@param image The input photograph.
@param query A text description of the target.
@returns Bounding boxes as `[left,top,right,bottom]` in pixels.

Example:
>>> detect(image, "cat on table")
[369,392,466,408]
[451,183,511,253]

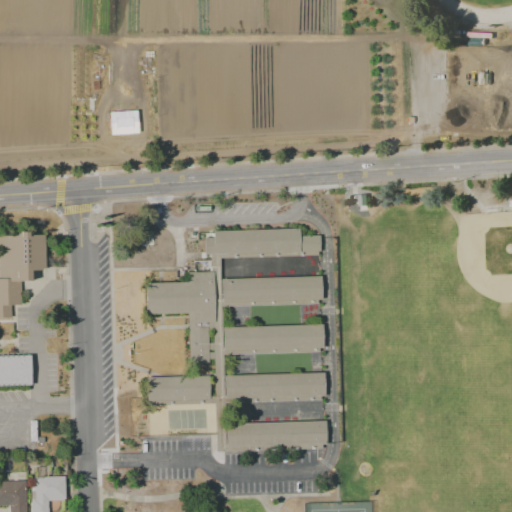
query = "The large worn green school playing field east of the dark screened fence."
[334,204,512,512]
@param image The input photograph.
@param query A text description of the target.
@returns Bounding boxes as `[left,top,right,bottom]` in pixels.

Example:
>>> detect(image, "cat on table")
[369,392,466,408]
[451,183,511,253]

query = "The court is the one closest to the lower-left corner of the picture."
[168,410,206,428]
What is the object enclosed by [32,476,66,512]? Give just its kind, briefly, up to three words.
house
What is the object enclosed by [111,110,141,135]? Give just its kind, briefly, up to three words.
barn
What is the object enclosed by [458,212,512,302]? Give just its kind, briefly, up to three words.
baseball field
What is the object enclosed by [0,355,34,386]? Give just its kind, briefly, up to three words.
building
